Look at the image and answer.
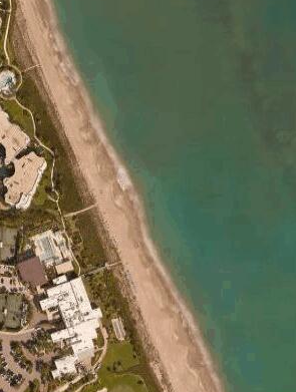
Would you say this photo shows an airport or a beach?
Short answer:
beach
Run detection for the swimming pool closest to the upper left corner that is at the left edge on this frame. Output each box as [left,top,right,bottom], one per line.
[0,69,18,93]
